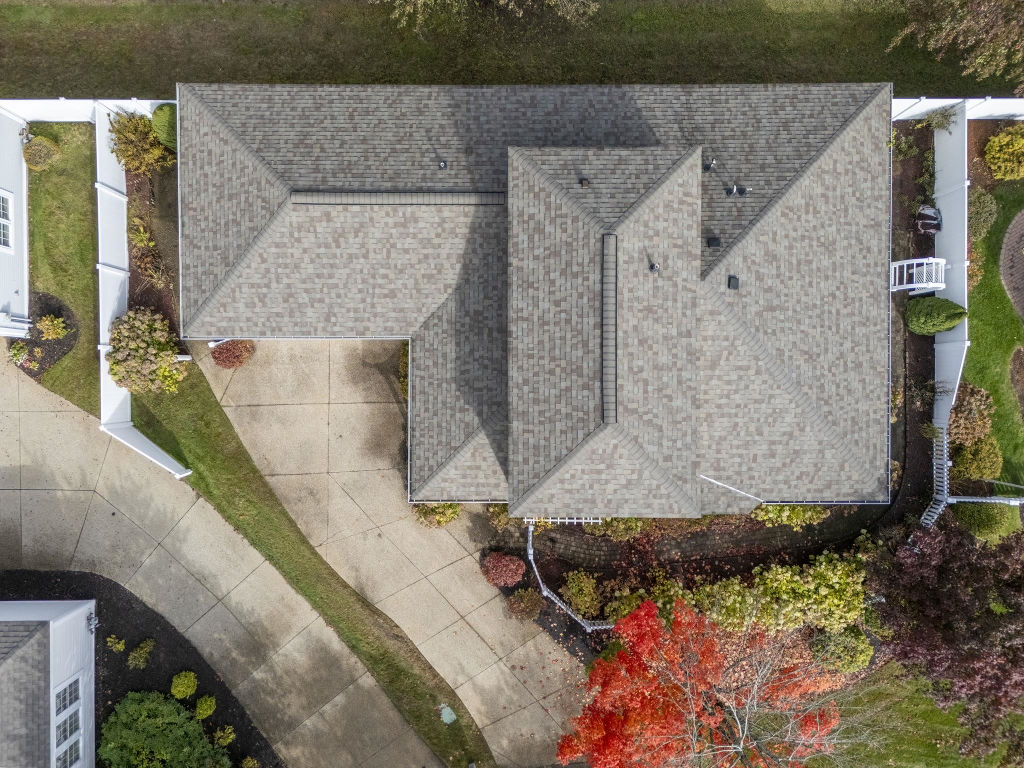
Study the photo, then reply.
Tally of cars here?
none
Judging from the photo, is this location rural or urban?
urban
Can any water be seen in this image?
No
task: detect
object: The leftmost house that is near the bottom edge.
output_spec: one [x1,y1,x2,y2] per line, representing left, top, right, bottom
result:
[0,601,98,768]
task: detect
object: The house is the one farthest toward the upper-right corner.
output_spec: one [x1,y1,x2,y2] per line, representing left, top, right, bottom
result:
[175,82,895,520]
